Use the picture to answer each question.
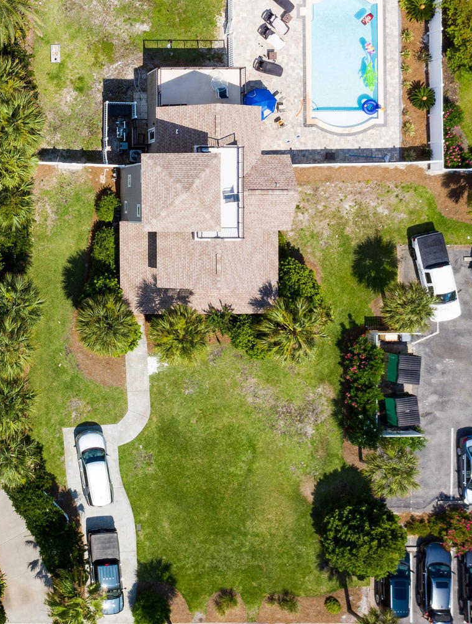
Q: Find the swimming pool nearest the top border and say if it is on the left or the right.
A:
right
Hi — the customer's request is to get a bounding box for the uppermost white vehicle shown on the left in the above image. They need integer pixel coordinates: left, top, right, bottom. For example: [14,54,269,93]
[71,423,115,508]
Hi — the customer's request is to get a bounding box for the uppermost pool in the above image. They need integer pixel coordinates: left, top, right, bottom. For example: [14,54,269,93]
[296,0,387,136]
